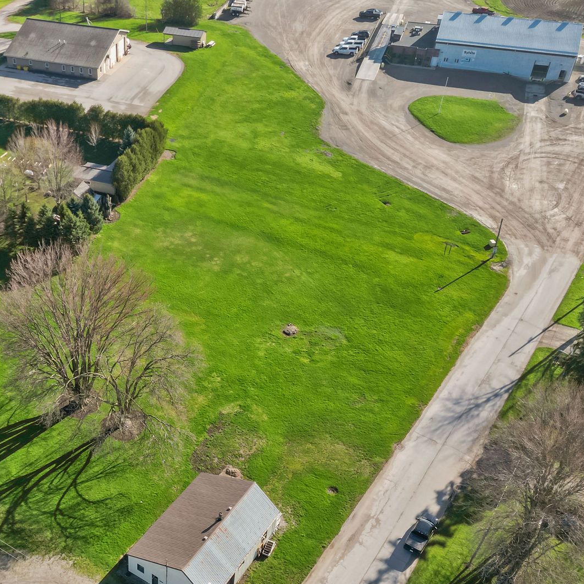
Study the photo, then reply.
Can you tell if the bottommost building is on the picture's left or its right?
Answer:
left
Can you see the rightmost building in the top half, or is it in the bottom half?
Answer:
top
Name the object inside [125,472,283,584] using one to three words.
building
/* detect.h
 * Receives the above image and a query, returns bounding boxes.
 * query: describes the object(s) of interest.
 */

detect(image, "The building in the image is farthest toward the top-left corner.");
[4,19,144,81]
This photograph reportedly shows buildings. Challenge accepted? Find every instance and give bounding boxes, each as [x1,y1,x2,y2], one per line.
[435,8,580,82]
[4,19,144,81]
[163,24,206,50]
[125,472,283,584]
[78,157,119,199]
